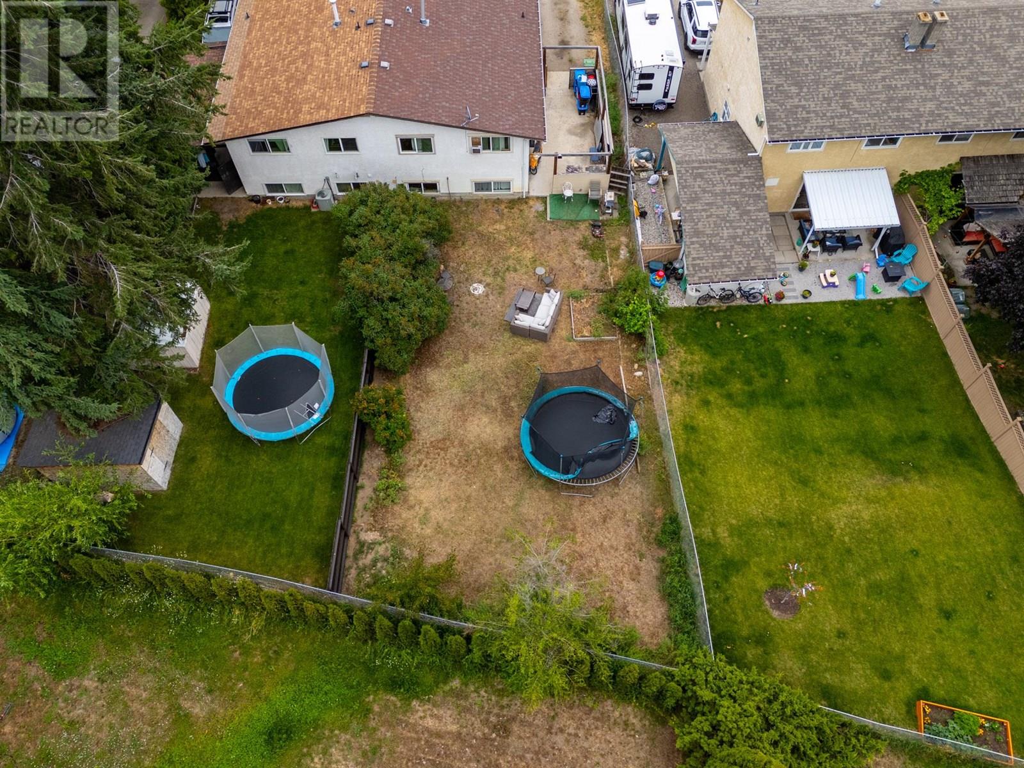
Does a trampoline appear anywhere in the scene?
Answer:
Yes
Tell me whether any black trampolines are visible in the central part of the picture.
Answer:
Yes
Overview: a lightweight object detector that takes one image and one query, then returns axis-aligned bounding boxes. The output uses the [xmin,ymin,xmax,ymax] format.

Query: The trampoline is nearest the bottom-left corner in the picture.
[204,320,336,449]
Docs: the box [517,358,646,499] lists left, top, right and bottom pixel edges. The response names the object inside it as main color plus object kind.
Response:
black trampoline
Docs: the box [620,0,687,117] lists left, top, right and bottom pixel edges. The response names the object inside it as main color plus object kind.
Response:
white trailer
